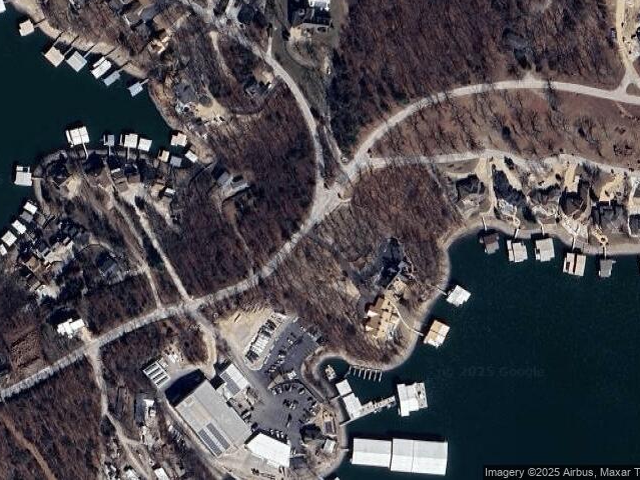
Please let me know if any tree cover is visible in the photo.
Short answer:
Yes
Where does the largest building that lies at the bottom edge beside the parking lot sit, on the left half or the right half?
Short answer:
left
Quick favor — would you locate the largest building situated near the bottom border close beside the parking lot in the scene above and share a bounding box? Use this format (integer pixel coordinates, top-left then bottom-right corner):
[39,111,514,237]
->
[175,379,251,458]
